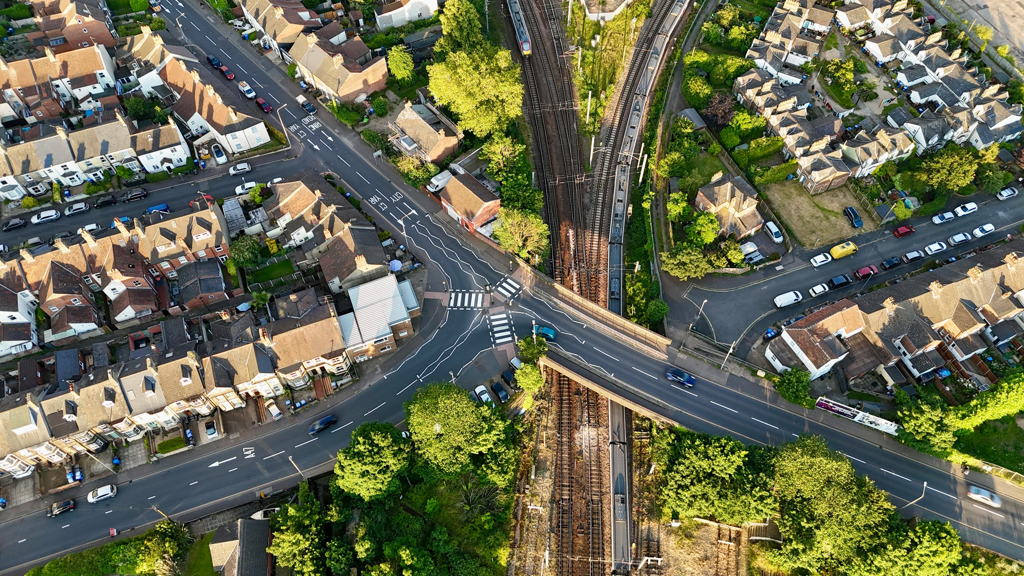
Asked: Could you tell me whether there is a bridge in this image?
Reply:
Yes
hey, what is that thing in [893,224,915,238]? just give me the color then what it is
red car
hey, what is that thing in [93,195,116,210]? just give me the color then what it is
black car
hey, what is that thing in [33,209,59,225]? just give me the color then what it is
white car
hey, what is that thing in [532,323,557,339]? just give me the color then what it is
blue car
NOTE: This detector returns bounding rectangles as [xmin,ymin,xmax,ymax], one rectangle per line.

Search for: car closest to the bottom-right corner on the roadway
[968,487,1001,508]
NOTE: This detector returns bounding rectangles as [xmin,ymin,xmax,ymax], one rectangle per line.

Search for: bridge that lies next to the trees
[505,250,692,433]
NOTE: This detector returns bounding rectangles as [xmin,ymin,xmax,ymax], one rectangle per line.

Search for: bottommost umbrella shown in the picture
[236,301,251,314]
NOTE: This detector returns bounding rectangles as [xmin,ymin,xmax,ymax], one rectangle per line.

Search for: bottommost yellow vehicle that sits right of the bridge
[830,241,860,259]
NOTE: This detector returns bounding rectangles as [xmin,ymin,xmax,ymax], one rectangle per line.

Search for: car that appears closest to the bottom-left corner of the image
[47,497,76,518]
